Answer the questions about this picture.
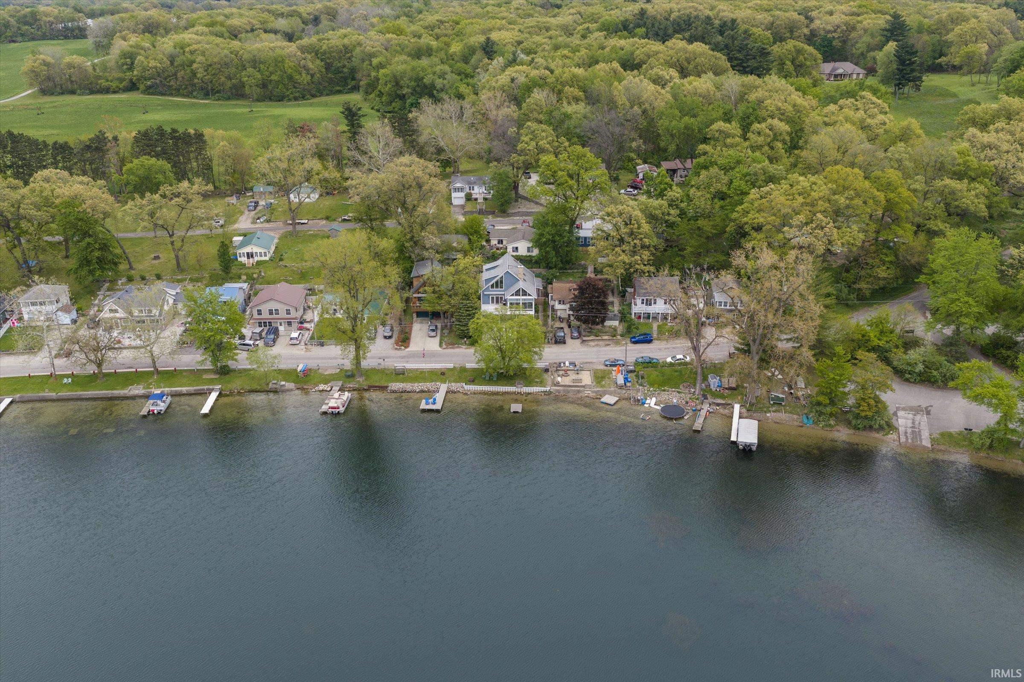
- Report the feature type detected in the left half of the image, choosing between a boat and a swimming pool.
boat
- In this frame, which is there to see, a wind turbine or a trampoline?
trampoline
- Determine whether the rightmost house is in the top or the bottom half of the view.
top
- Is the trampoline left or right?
right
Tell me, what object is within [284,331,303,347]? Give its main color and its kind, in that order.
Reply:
white car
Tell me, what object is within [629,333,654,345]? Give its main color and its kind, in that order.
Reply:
blue vehicle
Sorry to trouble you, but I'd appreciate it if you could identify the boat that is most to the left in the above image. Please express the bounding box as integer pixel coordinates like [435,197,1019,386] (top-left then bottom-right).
[148,385,174,418]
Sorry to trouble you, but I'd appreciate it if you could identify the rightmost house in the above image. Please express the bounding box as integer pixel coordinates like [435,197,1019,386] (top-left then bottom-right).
[814,60,868,81]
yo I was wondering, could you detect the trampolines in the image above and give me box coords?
[659,400,688,425]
